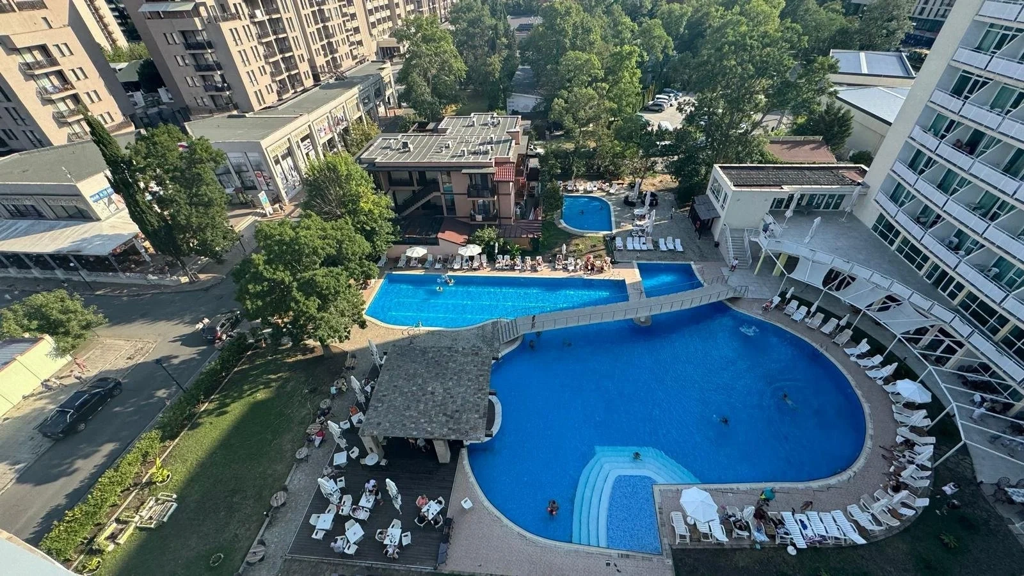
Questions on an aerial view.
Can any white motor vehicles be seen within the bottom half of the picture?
No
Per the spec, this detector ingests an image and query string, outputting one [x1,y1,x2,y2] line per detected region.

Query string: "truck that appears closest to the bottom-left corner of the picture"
[36,375,124,440]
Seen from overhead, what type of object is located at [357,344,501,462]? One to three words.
building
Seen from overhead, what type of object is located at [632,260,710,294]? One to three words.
swimming pool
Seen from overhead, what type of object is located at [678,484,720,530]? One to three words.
umbrella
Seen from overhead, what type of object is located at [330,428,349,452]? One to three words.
umbrella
